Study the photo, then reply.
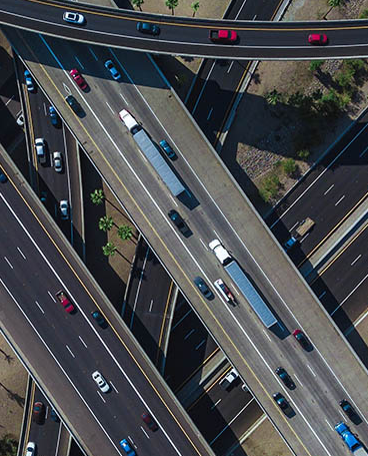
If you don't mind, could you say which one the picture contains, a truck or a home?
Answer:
truck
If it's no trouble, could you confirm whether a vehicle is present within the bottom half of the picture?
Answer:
Yes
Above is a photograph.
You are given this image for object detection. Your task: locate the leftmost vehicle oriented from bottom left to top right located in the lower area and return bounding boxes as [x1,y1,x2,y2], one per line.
[218,367,238,388]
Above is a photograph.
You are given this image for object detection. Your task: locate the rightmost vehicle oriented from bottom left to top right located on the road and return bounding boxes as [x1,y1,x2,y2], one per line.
[284,216,315,247]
